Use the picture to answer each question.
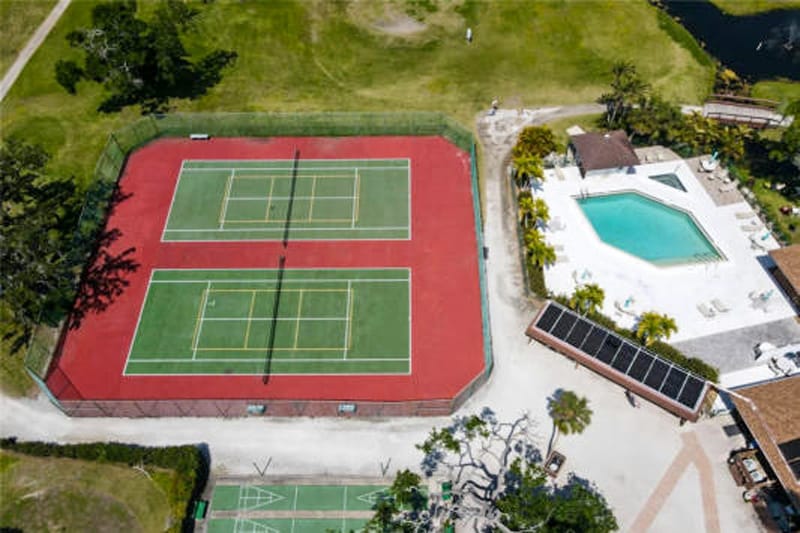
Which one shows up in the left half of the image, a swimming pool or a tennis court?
tennis court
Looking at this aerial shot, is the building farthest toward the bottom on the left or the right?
right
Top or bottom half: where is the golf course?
top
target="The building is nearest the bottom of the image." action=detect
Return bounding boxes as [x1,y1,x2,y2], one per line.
[709,371,800,503]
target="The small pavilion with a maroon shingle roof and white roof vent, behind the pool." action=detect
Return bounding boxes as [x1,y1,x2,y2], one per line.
[566,131,640,184]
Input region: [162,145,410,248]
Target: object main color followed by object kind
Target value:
green tennis court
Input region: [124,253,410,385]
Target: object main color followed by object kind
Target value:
green tennis court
